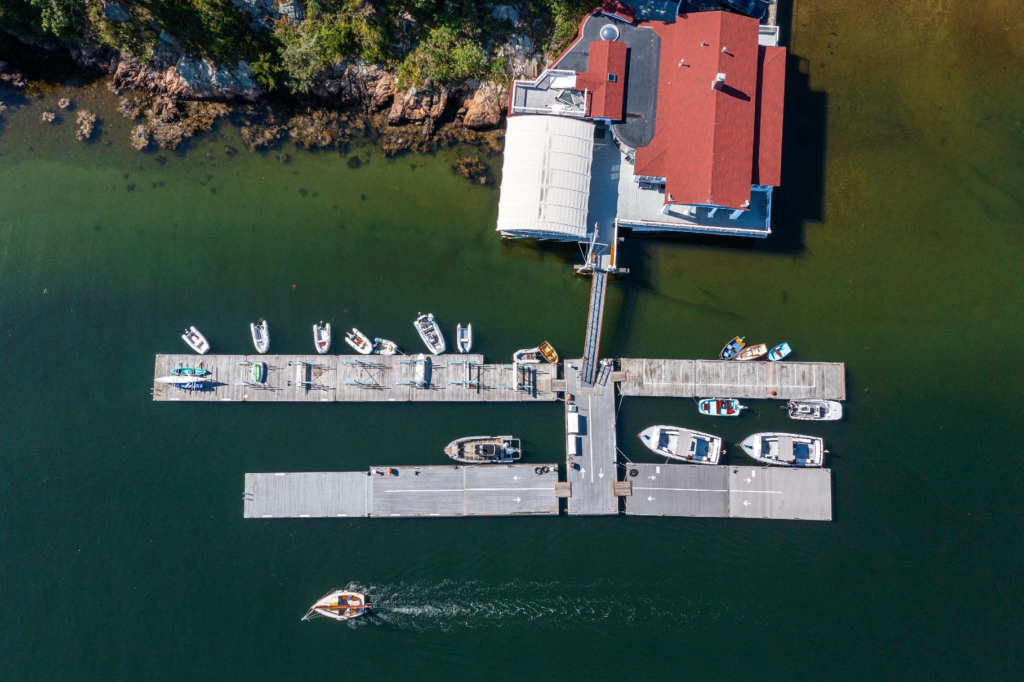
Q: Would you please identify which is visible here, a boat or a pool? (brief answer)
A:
boat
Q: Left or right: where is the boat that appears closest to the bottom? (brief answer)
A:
left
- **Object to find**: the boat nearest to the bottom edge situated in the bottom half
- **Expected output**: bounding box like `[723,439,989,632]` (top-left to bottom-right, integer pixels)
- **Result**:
[301,590,371,621]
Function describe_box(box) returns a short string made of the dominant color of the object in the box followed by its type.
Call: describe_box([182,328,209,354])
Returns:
white boat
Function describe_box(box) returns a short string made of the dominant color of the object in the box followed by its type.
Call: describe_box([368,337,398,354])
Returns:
white boat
